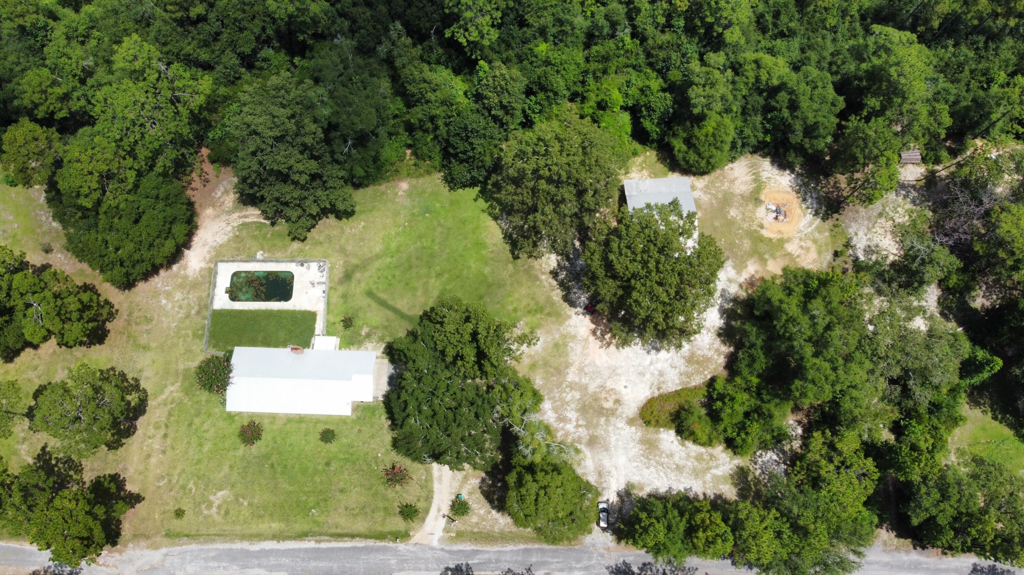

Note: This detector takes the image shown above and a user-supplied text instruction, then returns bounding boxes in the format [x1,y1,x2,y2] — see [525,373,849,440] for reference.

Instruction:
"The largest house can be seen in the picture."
[225,344,376,416]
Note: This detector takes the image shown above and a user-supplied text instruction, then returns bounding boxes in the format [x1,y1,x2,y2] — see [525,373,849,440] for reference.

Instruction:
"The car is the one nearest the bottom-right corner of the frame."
[597,501,610,530]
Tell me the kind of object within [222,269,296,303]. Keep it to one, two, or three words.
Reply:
swimming pool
